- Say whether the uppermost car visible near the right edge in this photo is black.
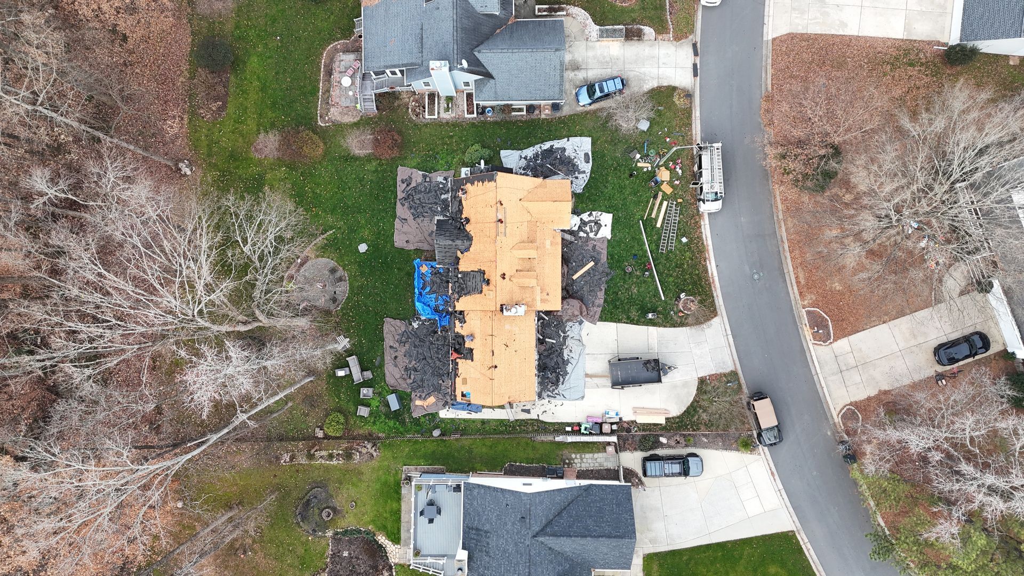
Yes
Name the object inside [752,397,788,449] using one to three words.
vehicle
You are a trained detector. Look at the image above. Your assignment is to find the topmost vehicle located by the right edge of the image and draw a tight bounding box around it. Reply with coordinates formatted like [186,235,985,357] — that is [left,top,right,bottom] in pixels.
[935,332,996,367]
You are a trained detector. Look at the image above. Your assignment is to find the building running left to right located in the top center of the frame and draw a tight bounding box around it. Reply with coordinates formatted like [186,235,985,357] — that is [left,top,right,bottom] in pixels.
[361,0,566,106]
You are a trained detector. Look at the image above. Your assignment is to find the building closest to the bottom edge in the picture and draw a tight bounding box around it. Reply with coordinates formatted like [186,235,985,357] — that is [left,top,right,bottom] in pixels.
[455,476,636,576]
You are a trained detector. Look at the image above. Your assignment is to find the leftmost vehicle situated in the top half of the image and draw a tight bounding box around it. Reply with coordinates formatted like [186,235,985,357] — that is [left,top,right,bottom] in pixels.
[575,72,629,106]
